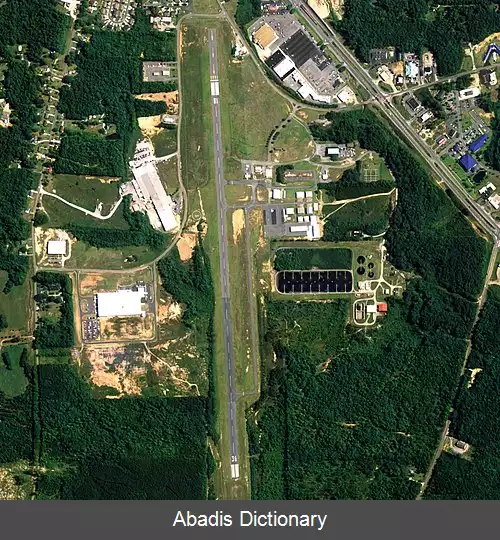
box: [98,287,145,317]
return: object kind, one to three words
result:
building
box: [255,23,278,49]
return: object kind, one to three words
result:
building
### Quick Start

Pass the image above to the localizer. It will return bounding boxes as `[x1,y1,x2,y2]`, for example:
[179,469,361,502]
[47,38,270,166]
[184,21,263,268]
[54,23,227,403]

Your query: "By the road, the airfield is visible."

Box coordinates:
[209,29,318,479]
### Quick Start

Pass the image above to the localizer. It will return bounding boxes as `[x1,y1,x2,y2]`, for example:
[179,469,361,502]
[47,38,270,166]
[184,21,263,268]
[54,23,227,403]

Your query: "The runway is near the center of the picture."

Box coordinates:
[209,29,238,479]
